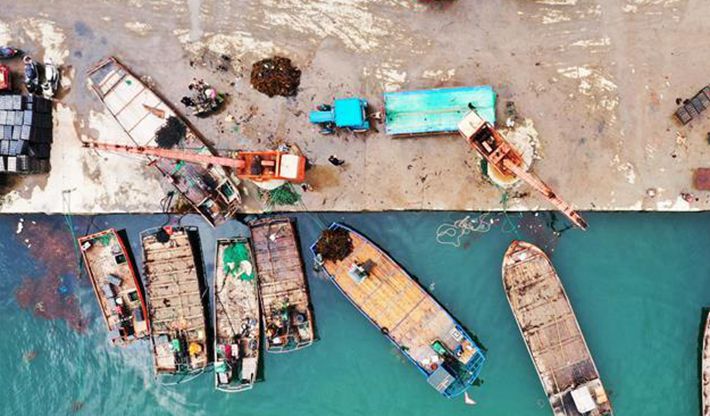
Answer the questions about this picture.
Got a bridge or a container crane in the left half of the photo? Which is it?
container crane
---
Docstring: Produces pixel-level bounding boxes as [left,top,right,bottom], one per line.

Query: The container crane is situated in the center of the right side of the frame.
[456,114,587,229]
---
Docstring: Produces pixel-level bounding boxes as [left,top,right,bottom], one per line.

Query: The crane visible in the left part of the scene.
[82,142,308,198]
